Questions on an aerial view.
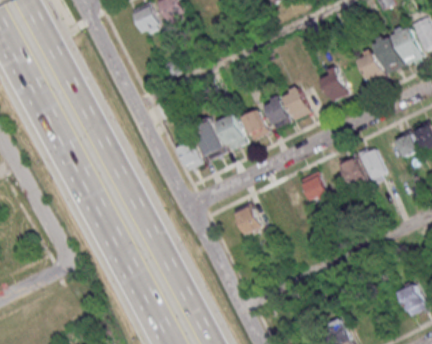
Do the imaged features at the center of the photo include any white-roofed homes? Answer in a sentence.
Yes, there is a white-roofed home at the center of the photo.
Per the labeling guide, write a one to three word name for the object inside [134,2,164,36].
house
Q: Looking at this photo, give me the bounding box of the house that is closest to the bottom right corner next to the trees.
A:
[397,284,430,320]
